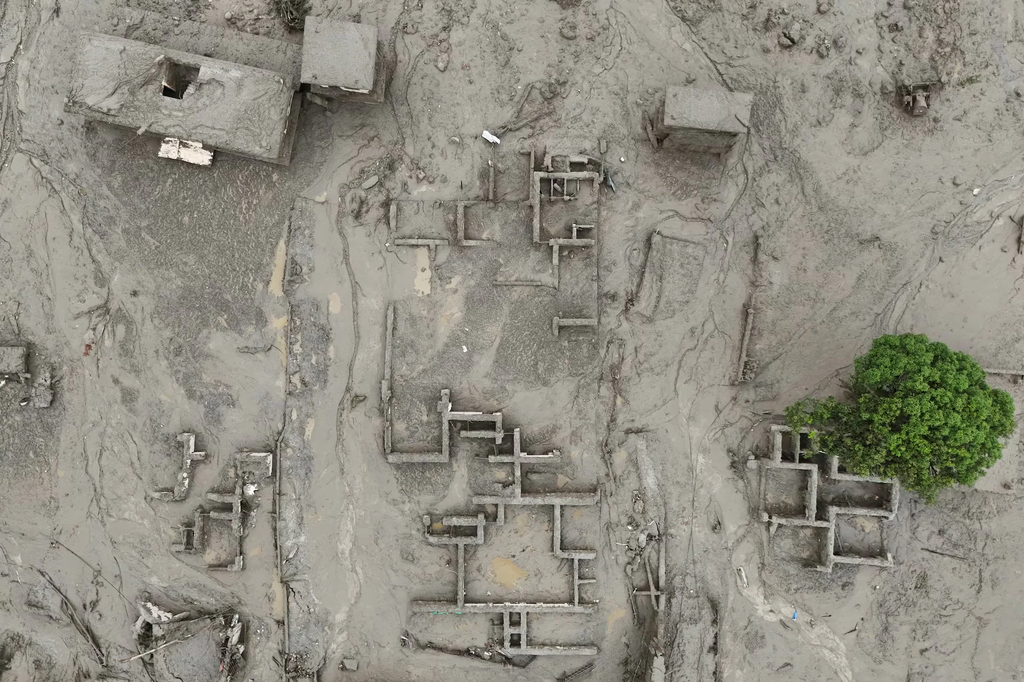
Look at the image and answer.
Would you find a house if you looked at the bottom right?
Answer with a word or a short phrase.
Yes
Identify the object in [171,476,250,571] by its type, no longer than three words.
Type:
house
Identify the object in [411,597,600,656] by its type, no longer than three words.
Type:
house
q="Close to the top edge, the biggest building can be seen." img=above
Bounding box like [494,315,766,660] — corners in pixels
[60,33,310,166]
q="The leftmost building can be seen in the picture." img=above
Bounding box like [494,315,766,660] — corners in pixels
[0,346,38,386]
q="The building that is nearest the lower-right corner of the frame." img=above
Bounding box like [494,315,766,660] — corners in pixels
[755,423,899,572]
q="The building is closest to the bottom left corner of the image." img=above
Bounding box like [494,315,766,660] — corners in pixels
[127,601,248,682]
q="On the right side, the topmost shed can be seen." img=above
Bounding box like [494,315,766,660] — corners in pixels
[651,85,754,157]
